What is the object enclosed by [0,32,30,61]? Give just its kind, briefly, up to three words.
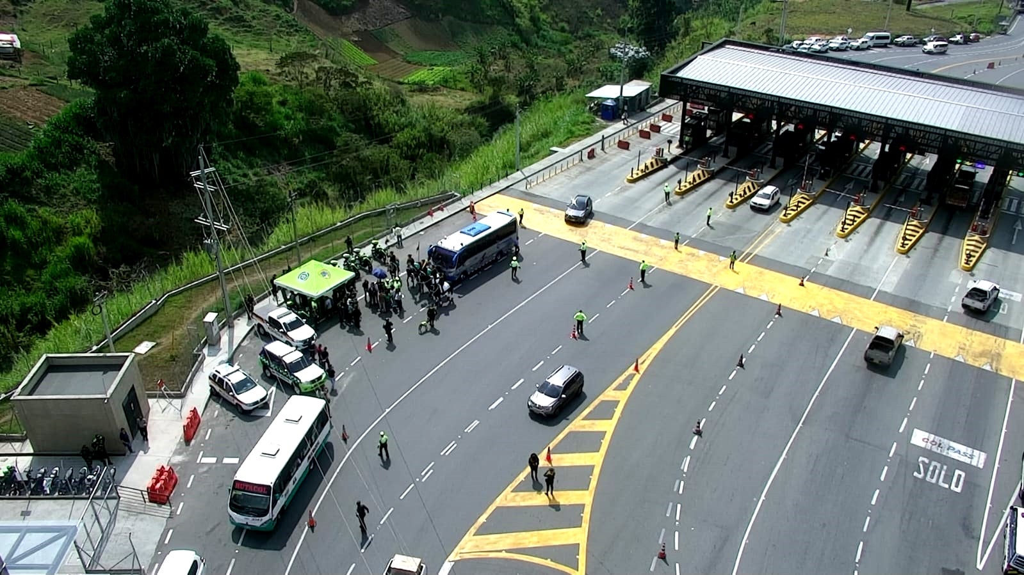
house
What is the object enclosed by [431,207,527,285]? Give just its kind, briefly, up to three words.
bus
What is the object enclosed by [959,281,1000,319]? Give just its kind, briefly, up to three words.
truck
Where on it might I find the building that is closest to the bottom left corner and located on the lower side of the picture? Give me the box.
[11,352,149,454]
